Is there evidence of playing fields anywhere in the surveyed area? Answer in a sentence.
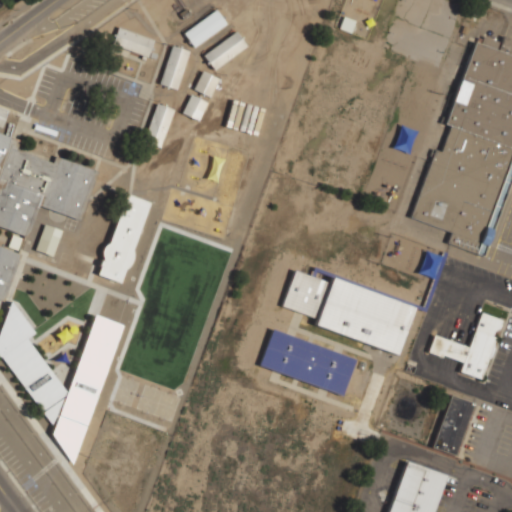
Yes, I can see a playing field in this picture.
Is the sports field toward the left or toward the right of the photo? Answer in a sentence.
The sports field is on the left side of the image.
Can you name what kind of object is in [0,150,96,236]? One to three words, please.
building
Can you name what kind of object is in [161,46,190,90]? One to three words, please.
building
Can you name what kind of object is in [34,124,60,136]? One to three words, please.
vehicle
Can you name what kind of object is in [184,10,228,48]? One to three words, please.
shed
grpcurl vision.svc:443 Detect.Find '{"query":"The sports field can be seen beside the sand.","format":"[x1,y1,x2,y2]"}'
[121,228,231,389]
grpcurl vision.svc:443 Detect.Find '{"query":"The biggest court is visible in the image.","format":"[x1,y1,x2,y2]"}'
[137,385,180,422]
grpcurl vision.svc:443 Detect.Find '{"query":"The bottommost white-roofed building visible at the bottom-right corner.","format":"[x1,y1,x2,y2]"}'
[390,462,451,512]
